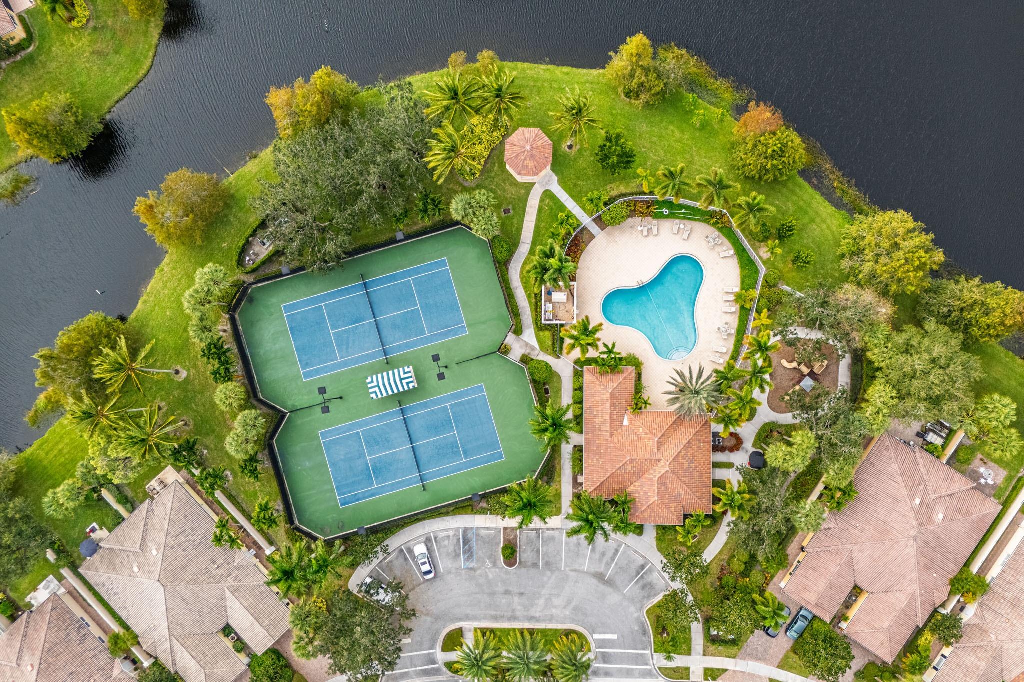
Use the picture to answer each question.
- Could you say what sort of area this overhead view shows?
residential area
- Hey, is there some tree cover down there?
Yes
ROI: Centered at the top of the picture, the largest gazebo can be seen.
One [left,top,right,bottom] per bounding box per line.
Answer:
[504,128,552,180]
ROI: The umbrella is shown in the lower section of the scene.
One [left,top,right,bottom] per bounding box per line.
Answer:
[81,538,101,557]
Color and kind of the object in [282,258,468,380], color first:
blue tennis court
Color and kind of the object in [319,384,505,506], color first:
blue tennis court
